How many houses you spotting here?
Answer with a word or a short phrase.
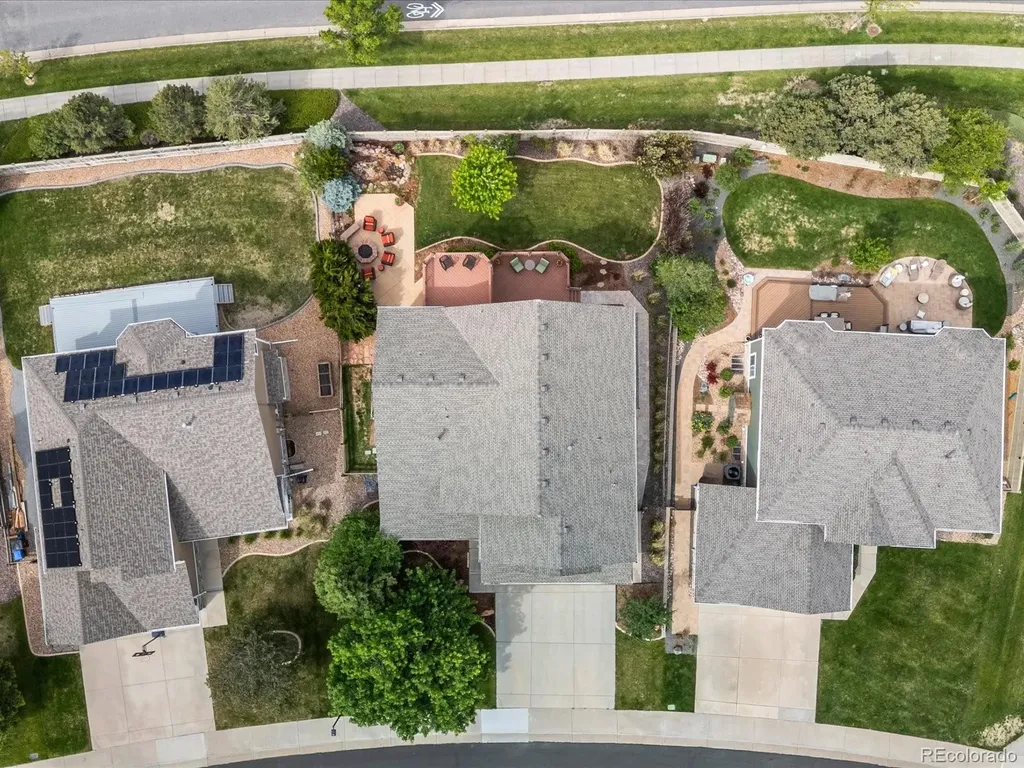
3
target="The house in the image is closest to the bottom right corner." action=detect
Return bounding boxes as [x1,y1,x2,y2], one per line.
[688,318,1007,616]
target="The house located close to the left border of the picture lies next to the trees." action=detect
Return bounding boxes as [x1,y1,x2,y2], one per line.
[21,317,307,647]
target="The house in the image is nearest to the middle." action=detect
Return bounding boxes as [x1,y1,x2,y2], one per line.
[373,299,639,586]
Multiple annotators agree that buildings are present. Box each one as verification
[21,317,307,647]
[688,318,1007,616]
[373,299,639,586]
